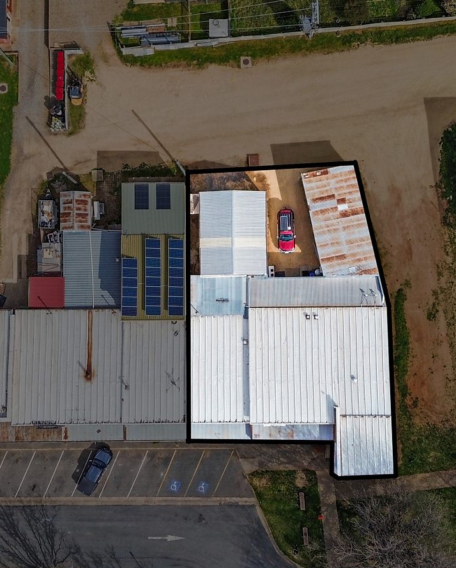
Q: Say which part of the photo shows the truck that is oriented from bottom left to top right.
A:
bottom left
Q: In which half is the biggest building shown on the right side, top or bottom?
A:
bottom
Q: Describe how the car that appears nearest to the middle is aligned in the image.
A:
vertically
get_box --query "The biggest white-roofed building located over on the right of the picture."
[190,275,397,477]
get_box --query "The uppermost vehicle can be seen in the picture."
[66,75,84,108]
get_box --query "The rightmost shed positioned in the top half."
[299,165,381,276]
